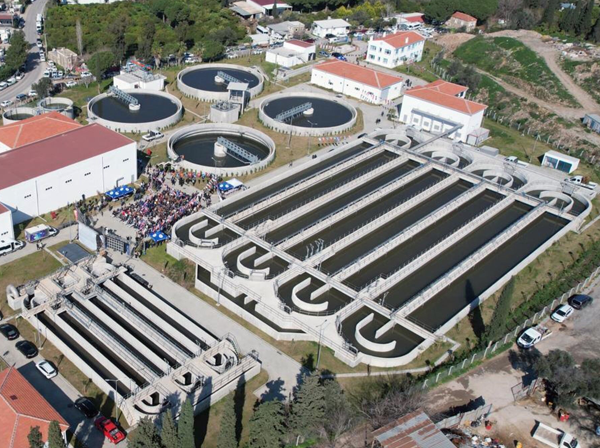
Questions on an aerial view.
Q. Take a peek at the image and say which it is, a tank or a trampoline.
tank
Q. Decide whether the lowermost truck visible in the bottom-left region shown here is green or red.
red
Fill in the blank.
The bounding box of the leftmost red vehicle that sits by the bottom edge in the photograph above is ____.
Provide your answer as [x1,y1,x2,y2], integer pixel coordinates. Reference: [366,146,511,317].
[93,412,129,446]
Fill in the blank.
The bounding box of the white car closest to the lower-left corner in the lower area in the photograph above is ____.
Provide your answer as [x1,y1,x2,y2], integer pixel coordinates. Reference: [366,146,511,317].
[33,355,60,377]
